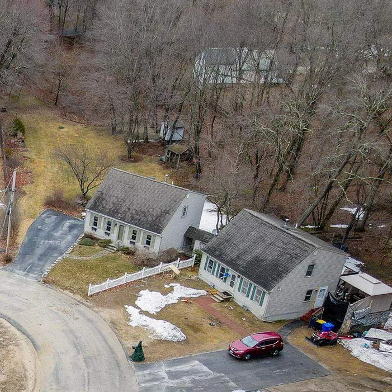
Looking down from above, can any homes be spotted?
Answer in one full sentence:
Yes, I can see a home in this picture.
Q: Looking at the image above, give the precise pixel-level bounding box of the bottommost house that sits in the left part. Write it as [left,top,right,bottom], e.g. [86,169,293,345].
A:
[85,167,208,257]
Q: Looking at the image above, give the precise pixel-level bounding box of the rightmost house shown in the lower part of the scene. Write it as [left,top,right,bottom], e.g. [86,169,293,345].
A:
[199,208,349,321]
